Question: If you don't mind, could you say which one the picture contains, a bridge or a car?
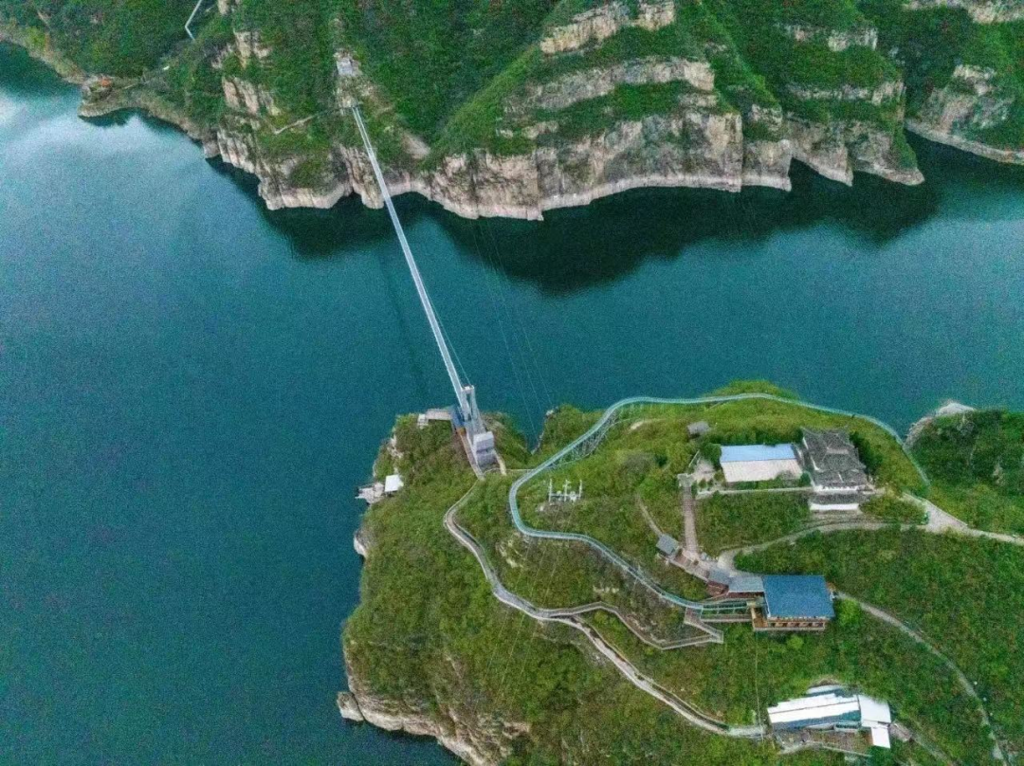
bridge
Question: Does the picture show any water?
Yes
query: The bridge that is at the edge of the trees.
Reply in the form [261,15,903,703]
[351,101,497,463]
